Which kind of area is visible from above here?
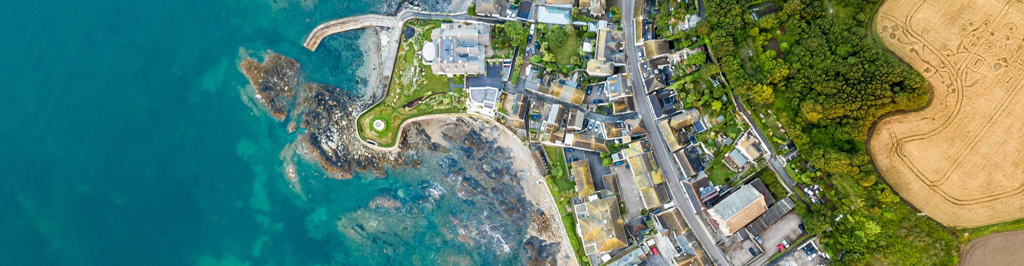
residential area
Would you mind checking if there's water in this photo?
Yes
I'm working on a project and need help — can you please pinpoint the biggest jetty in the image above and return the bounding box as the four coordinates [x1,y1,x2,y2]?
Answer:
[304,14,396,52]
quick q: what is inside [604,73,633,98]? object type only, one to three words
house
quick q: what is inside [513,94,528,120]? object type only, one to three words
house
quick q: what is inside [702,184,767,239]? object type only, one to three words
building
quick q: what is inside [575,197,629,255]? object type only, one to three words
building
